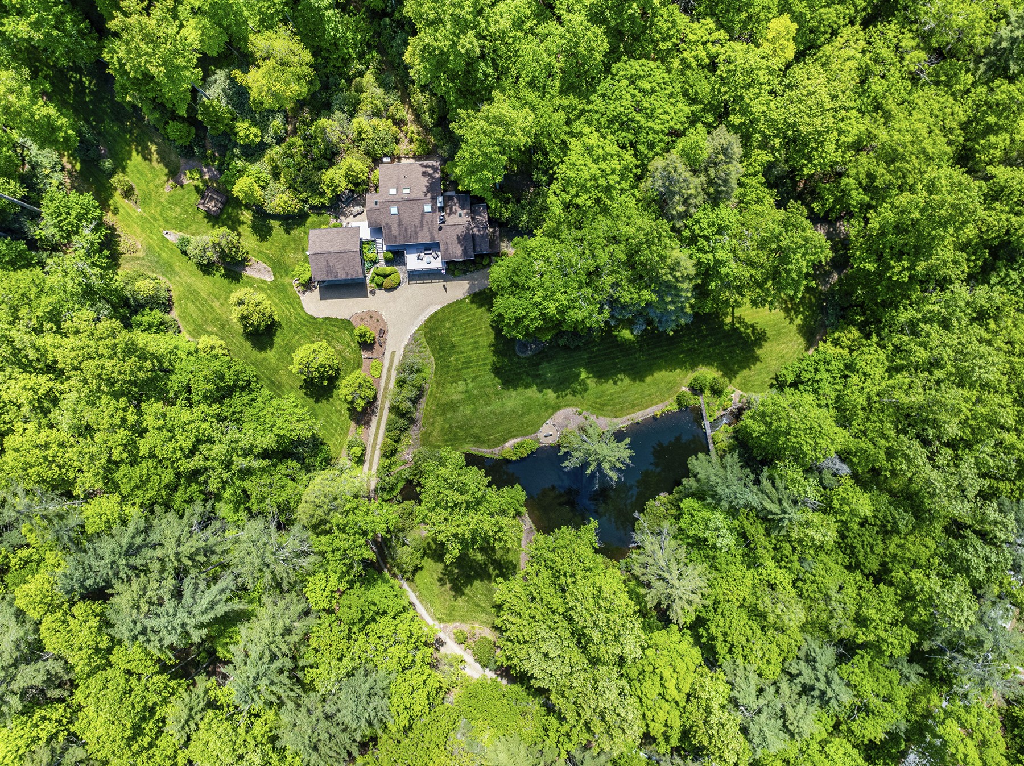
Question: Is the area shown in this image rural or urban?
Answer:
rural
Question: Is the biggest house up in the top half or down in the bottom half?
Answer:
top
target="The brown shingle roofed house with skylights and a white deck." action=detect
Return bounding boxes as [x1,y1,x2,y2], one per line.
[343,161,500,271]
